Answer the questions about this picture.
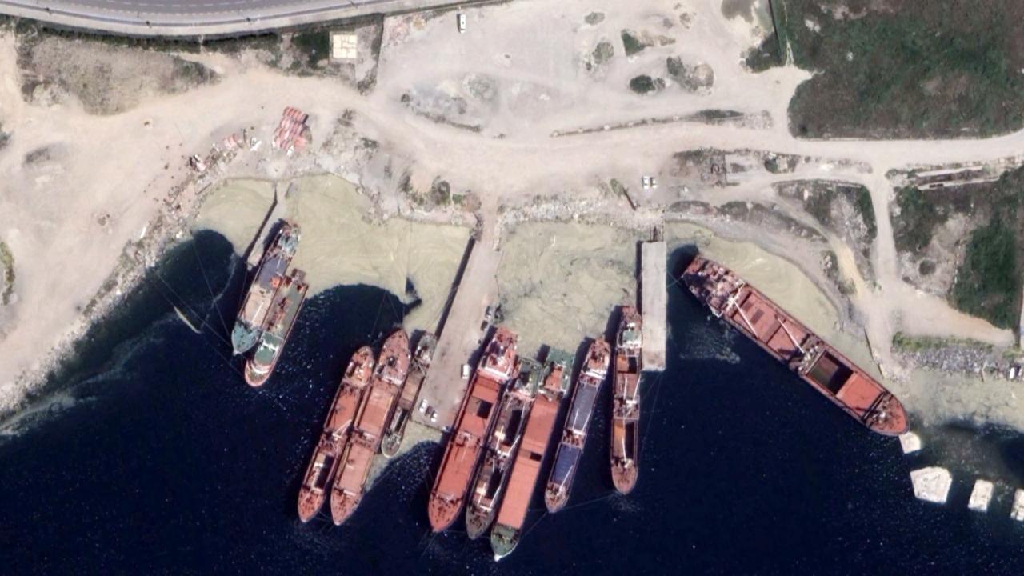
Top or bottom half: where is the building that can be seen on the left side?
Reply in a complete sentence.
It is in the top half that the building that can be seen on the left side appears.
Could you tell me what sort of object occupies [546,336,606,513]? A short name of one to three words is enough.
ship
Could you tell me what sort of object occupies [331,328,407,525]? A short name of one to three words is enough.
ship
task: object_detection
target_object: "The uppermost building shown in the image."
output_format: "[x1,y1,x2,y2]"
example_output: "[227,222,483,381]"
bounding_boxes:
[329,30,359,62]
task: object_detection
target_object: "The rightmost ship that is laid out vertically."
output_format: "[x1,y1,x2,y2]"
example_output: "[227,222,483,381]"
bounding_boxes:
[613,306,642,495]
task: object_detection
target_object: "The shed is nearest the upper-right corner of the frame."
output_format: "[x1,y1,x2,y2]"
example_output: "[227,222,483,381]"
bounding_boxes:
[917,165,1001,189]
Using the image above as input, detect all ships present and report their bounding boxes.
[465,355,536,540]
[428,327,516,532]
[382,332,431,458]
[682,253,908,436]
[331,328,407,525]
[489,347,575,561]
[546,336,606,513]
[613,306,642,495]
[230,220,298,354]
[301,345,371,523]
[247,270,309,388]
